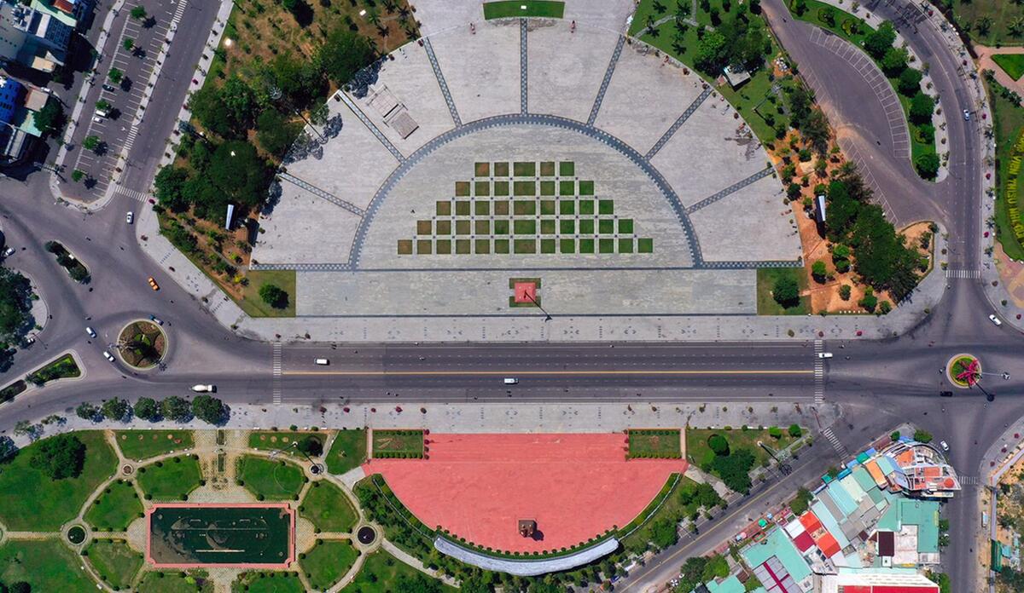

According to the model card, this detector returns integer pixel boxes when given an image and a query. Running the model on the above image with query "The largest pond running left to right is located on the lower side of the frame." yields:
[146,504,295,569]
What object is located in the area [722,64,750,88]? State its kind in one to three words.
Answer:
building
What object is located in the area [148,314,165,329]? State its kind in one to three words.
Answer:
vehicle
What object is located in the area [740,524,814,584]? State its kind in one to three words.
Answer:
house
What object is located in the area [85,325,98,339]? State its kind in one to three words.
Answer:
vehicle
